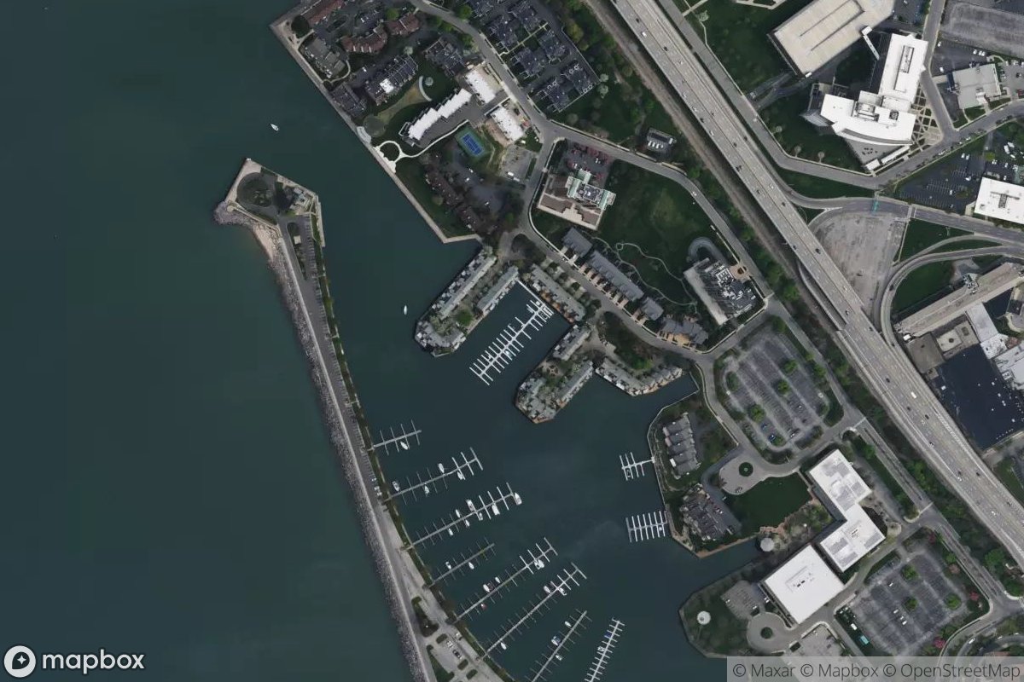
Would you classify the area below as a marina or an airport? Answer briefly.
marina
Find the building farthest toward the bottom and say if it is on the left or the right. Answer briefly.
right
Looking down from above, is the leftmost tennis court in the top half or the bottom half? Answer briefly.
top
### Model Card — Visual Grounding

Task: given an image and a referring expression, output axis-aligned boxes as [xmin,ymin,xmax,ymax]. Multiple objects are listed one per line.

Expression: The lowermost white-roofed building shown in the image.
[762,545,844,624]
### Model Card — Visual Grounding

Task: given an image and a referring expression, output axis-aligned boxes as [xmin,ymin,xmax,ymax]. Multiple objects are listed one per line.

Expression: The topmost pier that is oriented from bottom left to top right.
[470,300,553,386]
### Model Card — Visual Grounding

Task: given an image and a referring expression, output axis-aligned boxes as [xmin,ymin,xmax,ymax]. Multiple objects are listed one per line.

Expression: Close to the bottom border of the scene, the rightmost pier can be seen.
[586,619,625,682]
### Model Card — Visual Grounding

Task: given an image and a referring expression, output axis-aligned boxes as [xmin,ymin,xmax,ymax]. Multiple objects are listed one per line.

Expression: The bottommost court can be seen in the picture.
[455,125,490,160]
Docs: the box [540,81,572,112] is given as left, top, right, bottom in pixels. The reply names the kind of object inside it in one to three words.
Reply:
house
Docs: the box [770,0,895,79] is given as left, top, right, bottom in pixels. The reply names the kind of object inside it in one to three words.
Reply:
building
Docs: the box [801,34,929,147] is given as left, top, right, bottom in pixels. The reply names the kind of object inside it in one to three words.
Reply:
building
